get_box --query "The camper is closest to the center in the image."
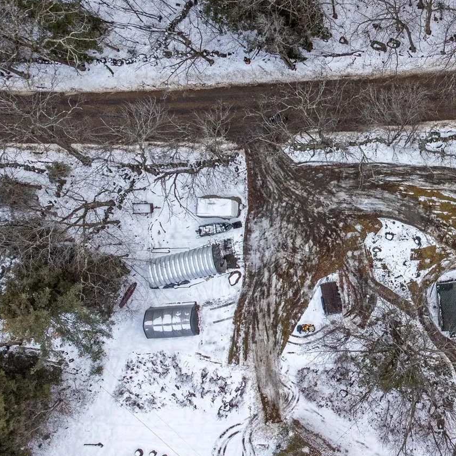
[189,192,245,222]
